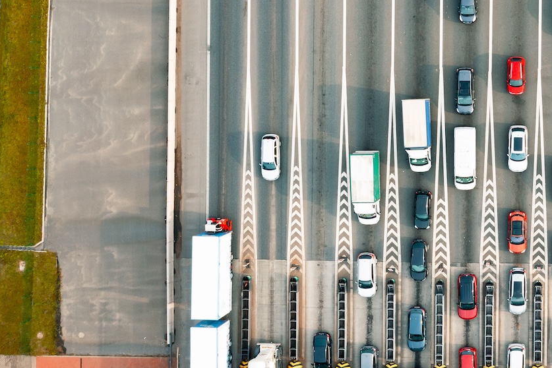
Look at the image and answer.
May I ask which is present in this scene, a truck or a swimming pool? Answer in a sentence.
The one in the frame is a truck.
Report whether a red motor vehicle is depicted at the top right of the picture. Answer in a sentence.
Yes, at the top right of the picture there is a red motor vehicle.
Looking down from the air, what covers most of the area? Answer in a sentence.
The scene is dominated by paved ground.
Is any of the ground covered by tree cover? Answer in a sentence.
No, there is no tree cover in the image.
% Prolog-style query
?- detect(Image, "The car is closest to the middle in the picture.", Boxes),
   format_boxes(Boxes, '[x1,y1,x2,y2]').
[257,134,282,179]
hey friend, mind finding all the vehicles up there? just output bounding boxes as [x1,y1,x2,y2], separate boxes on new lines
[507,342,525,368]
[453,67,475,113]
[456,0,478,24]
[411,190,433,229]
[408,238,429,280]
[506,209,526,253]
[191,320,230,368]
[458,345,477,368]
[451,128,476,189]
[355,252,378,297]
[405,305,427,350]
[506,125,527,171]
[207,214,234,233]
[403,98,432,171]
[506,267,527,313]
[359,344,379,368]
[257,134,282,179]
[350,148,379,224]
[505,56,525,95]
[310,331,334,368]
[455,272,477,320]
